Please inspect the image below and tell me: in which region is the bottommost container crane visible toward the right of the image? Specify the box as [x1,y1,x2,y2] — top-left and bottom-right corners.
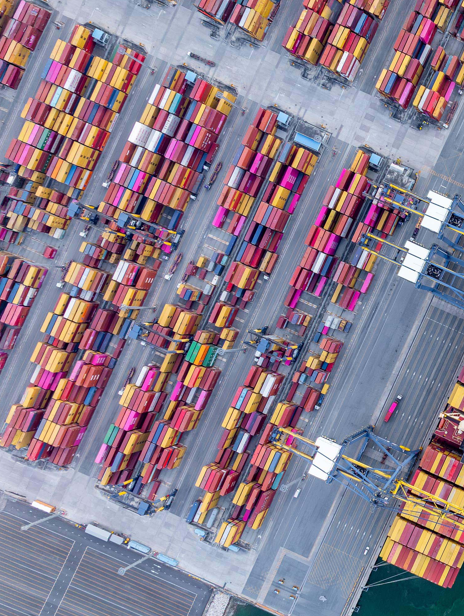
[266,422,464,531]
